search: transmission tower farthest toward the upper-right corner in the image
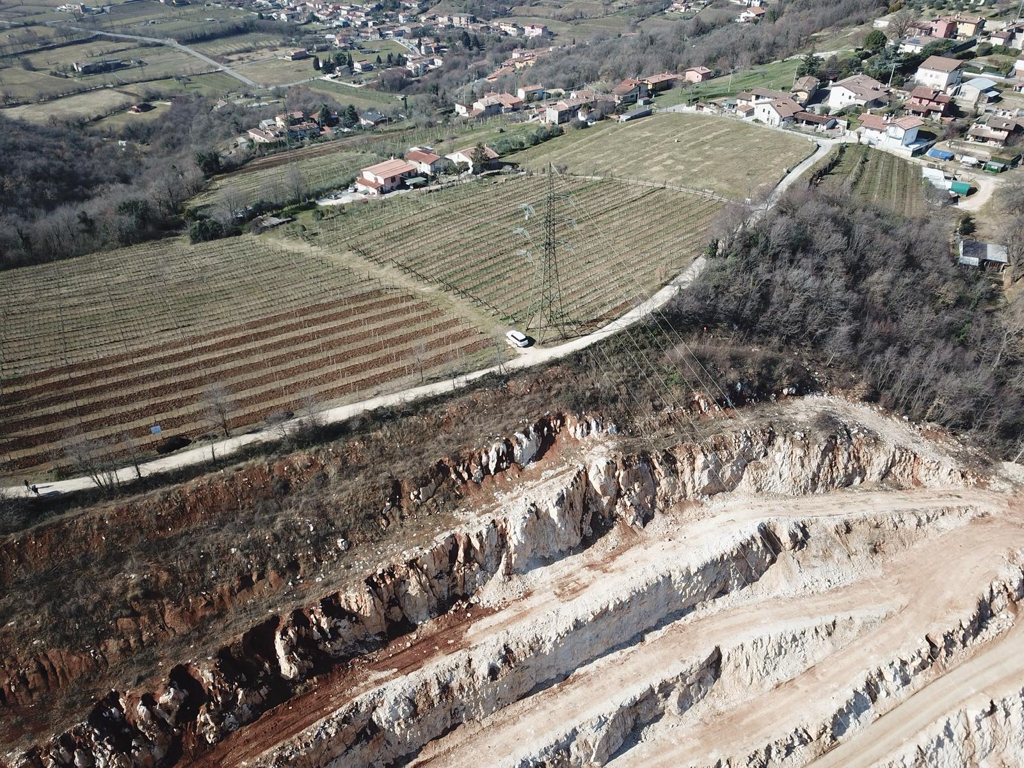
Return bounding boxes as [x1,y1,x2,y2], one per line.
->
[517,163,581,346]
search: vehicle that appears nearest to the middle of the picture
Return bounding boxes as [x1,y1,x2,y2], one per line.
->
[506,330,530,345]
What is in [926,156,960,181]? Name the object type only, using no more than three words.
greenhouse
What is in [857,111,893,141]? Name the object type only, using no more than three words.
house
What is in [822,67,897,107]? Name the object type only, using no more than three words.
house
